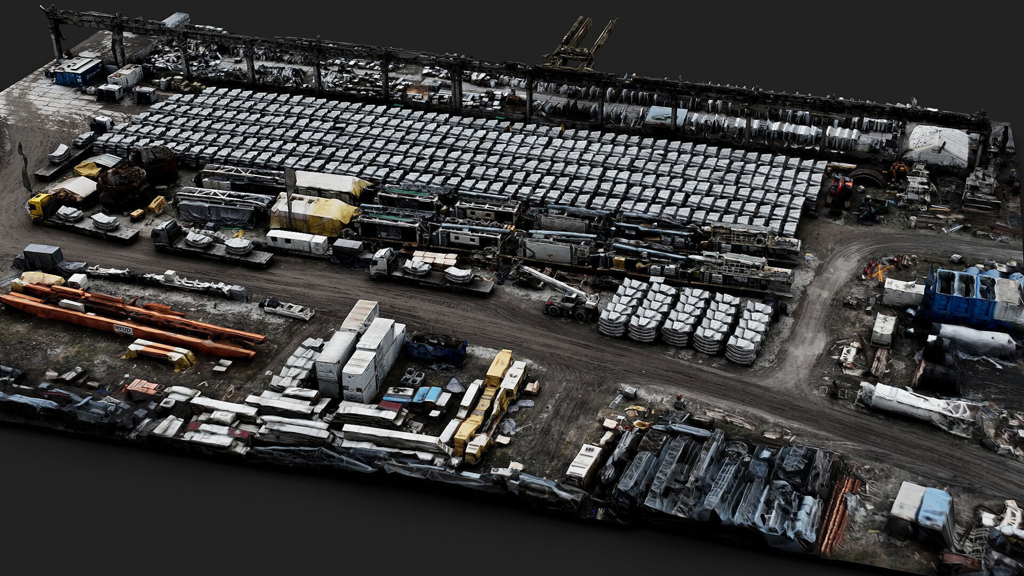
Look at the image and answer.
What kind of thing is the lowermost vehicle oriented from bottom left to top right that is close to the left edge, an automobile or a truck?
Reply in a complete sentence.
In the photo, the lowermost vehicle oriented from bottom left to top right that is close to the left edge shows up as a truck.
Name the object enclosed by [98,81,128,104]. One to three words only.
building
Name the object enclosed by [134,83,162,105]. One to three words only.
building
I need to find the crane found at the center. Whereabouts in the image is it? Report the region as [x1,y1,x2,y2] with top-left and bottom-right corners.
[520,263,603,322]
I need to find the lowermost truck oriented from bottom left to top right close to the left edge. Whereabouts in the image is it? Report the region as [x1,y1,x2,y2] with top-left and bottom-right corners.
[31,117,105,175]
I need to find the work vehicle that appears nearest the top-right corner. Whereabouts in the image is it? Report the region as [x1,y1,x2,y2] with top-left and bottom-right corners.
[828,181,857,221]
